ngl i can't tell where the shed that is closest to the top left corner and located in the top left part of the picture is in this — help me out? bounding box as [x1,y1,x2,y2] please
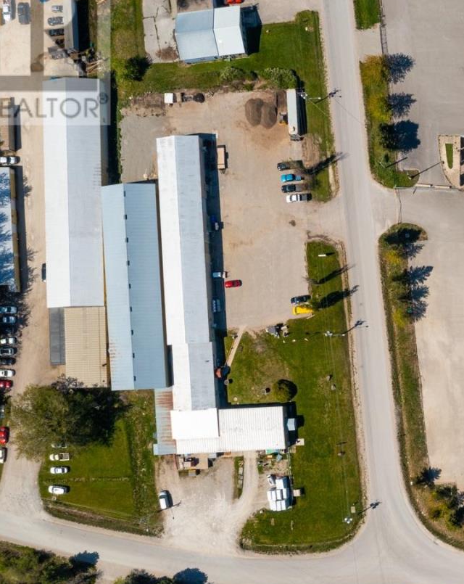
[62,0,81,54]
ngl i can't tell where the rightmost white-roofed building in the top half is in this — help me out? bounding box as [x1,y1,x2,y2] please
[212,6,251,61]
